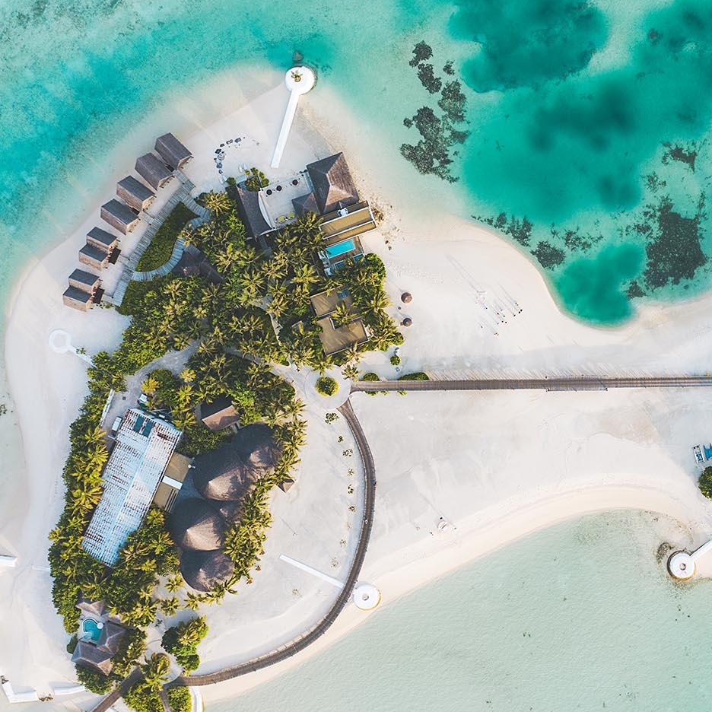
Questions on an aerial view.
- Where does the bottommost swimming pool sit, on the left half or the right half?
left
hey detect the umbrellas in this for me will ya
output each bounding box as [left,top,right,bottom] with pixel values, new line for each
[402,291,412,303]
[403,317,412,327]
